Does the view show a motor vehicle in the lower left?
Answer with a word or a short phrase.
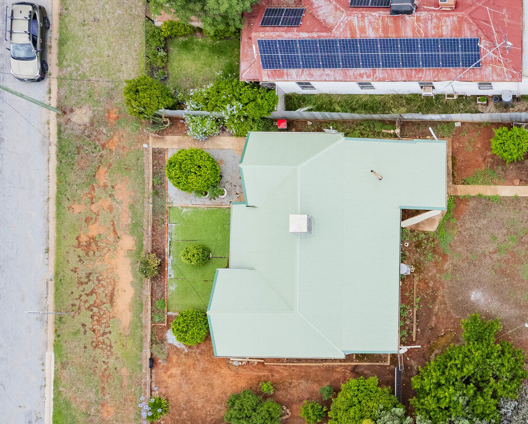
No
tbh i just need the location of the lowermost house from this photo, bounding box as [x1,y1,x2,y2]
[206,131,448,359]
